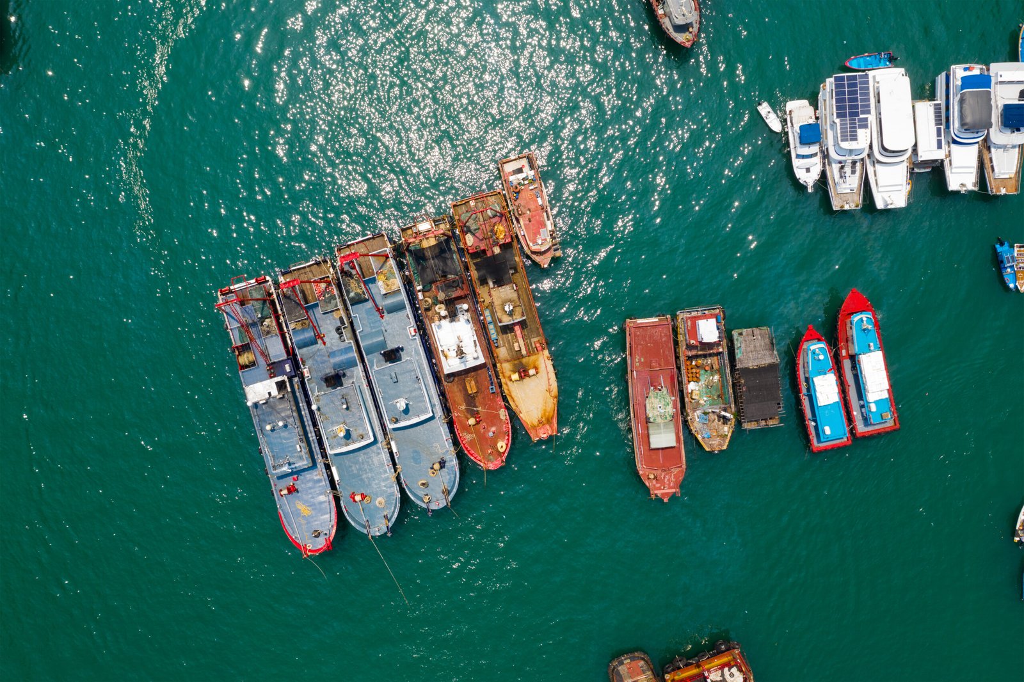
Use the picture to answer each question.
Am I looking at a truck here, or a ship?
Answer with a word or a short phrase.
ship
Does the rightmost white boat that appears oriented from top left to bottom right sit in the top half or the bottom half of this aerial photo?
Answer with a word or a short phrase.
top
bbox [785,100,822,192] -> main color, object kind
white boat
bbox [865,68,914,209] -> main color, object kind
white boat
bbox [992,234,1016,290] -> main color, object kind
blue boat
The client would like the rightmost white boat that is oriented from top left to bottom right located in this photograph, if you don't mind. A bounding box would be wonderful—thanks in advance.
[757,98,782,133]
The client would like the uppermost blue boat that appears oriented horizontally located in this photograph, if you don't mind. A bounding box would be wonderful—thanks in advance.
[843,51,900,70]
